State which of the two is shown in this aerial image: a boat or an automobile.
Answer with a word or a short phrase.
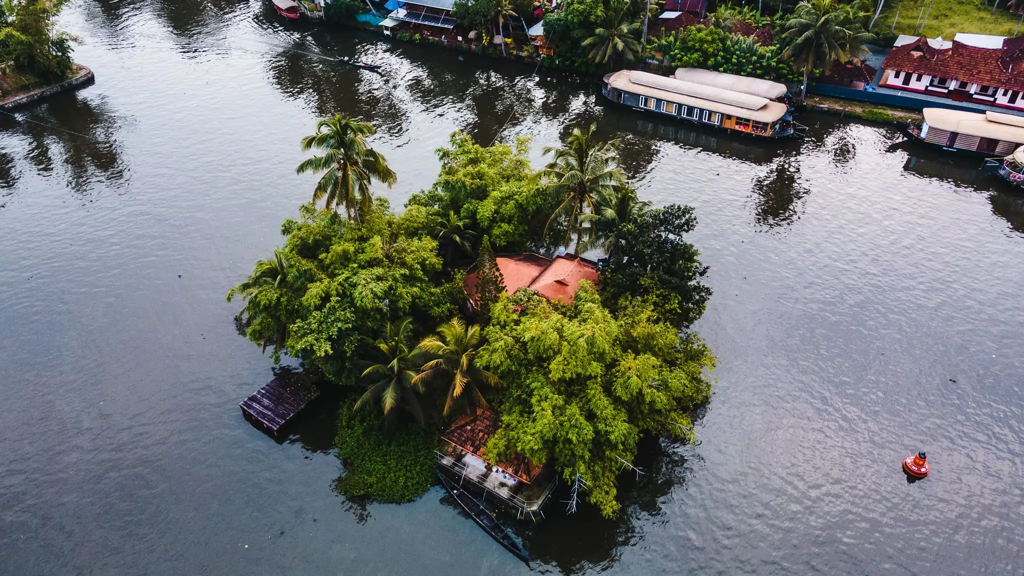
boat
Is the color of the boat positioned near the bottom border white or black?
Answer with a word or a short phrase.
black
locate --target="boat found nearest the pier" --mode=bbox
[438,460,529,564]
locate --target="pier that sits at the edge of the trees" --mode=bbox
[241,372,327,435]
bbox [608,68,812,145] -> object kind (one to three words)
boat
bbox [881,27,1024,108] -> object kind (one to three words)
house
